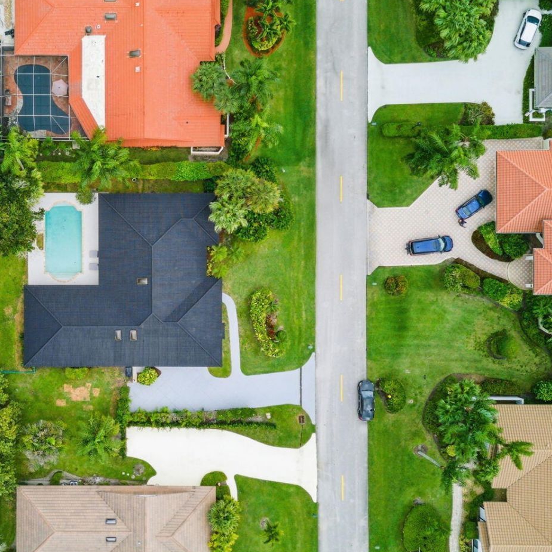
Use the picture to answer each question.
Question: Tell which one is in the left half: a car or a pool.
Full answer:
The one visible in the left half is a pool.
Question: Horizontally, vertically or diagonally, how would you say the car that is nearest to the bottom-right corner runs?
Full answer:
In this picture, the car that is nearest to the bottom-right corner is oriented vertically.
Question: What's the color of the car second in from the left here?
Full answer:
The color of the car second in from the left is blue.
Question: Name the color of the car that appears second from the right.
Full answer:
The color of the car that appears second from the right is blue.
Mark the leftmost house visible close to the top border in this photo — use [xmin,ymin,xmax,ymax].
[13,0,226,148]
